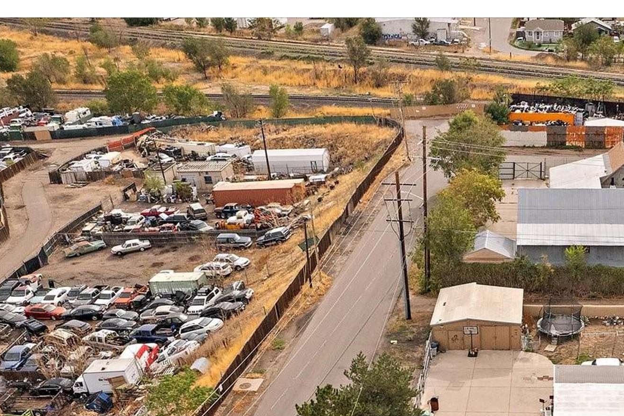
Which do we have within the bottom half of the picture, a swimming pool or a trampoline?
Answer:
trampoline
